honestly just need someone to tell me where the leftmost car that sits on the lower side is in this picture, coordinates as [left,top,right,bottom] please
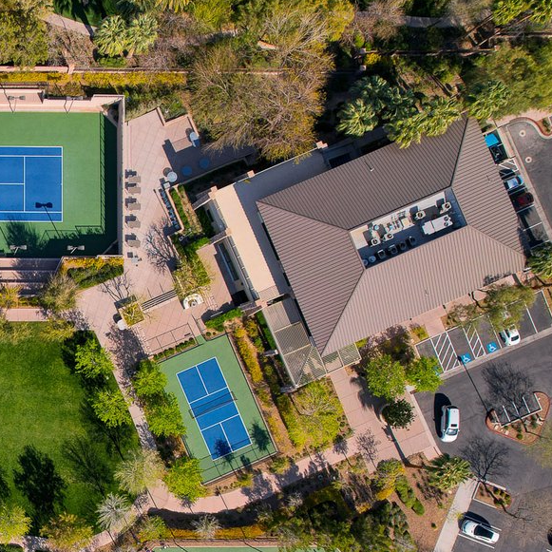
[443,407,462,438]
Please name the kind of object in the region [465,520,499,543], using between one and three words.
car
